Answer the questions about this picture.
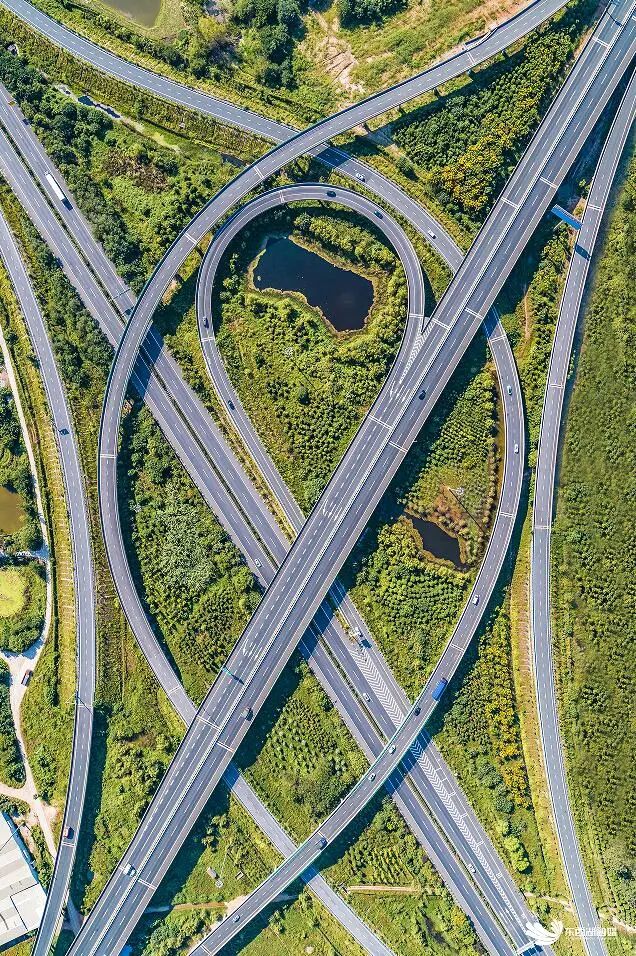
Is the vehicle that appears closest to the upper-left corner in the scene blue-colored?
No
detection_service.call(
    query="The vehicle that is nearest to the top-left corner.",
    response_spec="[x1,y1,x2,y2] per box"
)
[43,170,64,200]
